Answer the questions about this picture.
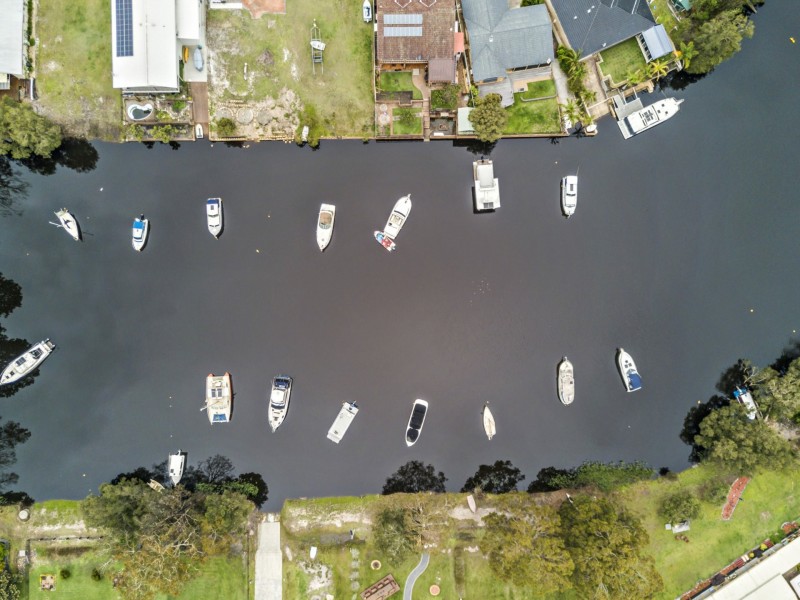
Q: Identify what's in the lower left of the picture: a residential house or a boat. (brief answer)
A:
boat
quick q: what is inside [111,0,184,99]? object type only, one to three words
house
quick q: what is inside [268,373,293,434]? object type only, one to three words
boat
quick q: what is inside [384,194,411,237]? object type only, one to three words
boat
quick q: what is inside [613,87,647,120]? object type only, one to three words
pier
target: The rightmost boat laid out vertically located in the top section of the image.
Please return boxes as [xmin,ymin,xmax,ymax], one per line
[562,168,578,217]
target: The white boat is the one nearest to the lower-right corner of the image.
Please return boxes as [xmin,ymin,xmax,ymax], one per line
[734,390,757,418]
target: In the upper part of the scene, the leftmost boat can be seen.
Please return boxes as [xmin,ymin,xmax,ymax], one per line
[52,209,80,240]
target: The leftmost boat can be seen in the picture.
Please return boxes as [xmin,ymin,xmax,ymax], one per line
[0,339,61,384]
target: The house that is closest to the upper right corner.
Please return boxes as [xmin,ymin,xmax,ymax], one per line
[545,0,656,61]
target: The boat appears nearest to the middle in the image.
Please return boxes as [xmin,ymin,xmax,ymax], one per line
[376,233,394,250]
